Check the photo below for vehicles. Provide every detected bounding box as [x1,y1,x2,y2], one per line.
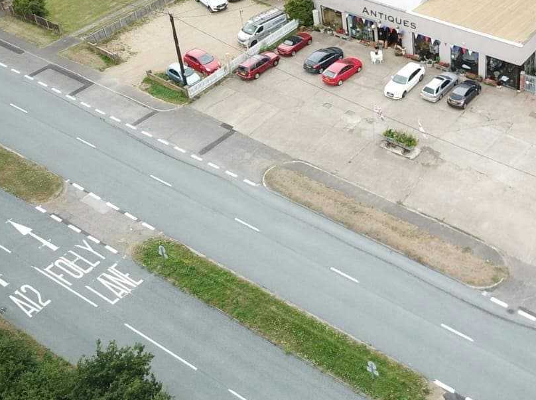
[236,50,282,81]
[180,46,220,74]
[198,0,229,12]
[320,57,363,86]
[273,30,313,57]
[443,78,481,110]
[386,63,425,97]
[420,69,459,101]
[238,6,283,44]
[300,44,343,74]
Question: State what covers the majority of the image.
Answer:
paved ground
